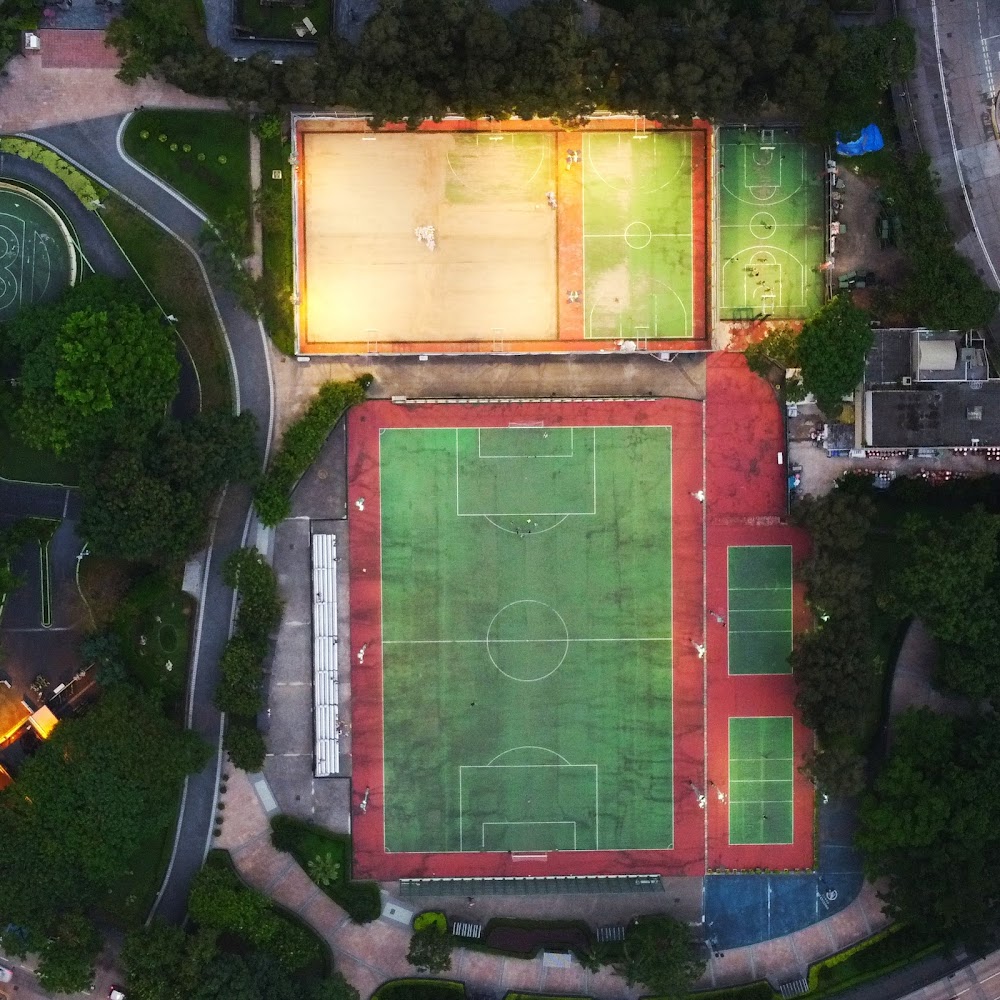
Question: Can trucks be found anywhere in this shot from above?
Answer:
No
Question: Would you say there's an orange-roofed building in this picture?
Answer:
Yes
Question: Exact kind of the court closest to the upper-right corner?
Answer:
basketball court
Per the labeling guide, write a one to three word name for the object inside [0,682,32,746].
house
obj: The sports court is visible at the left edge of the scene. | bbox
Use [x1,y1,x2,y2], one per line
[0,180,79,338]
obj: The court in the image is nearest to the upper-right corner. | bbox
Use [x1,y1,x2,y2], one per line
[719,128,826,320]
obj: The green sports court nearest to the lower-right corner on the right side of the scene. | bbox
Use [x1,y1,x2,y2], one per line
[729,716,794,846]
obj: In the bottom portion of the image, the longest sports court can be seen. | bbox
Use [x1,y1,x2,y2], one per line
[706,797,864,950]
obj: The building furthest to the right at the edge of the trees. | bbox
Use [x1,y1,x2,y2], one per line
[855,327,1000,448]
